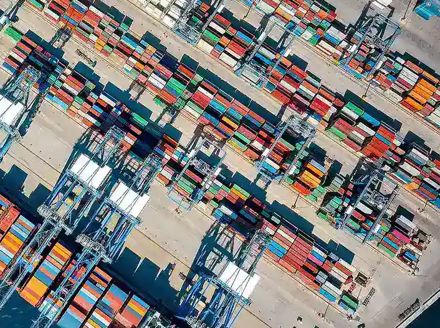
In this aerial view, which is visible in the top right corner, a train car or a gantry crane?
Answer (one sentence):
There is a gantry crane in the top right corner.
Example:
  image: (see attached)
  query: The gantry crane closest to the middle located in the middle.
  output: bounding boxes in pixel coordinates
[163,142,229,210]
